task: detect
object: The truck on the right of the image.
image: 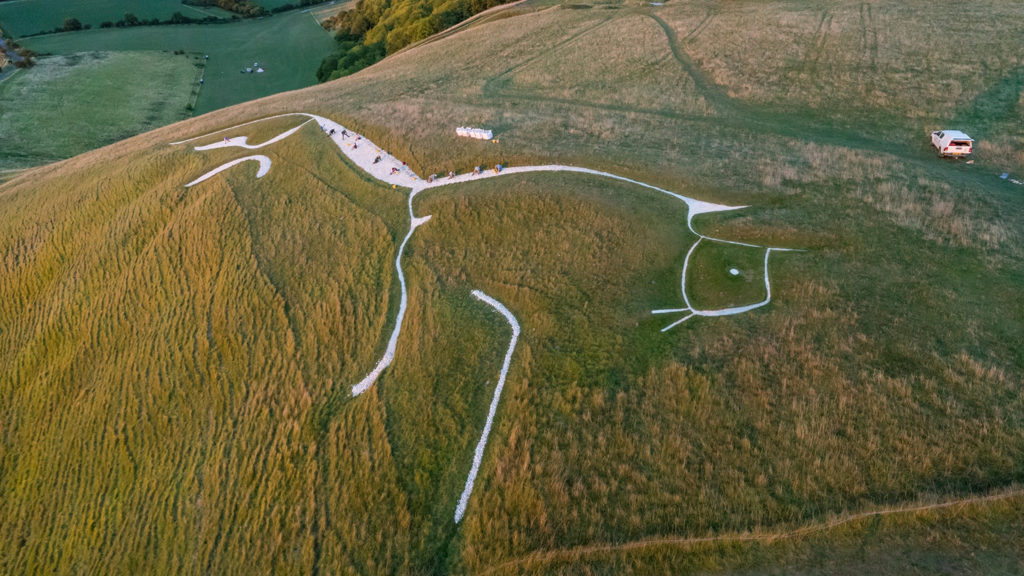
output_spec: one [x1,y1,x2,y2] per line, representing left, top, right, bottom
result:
[932,123,976,158]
